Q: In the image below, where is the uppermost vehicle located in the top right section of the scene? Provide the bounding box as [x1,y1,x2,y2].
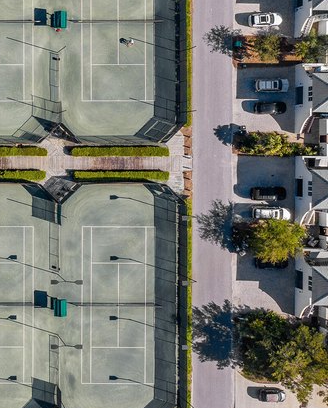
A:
[247,12,280,27]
